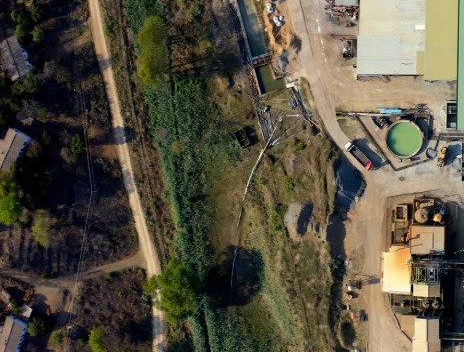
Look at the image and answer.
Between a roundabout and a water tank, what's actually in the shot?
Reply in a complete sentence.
Visible in the photo is a water tank.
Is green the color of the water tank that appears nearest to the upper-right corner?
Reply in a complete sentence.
Yes, green is the color of the water tank that appears nearest to the upper-right corner.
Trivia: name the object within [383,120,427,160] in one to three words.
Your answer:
water tank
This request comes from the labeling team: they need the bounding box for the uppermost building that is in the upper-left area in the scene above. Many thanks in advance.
[0,36,36,81]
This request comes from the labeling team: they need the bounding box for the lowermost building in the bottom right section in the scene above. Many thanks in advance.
[413,316,442,352]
